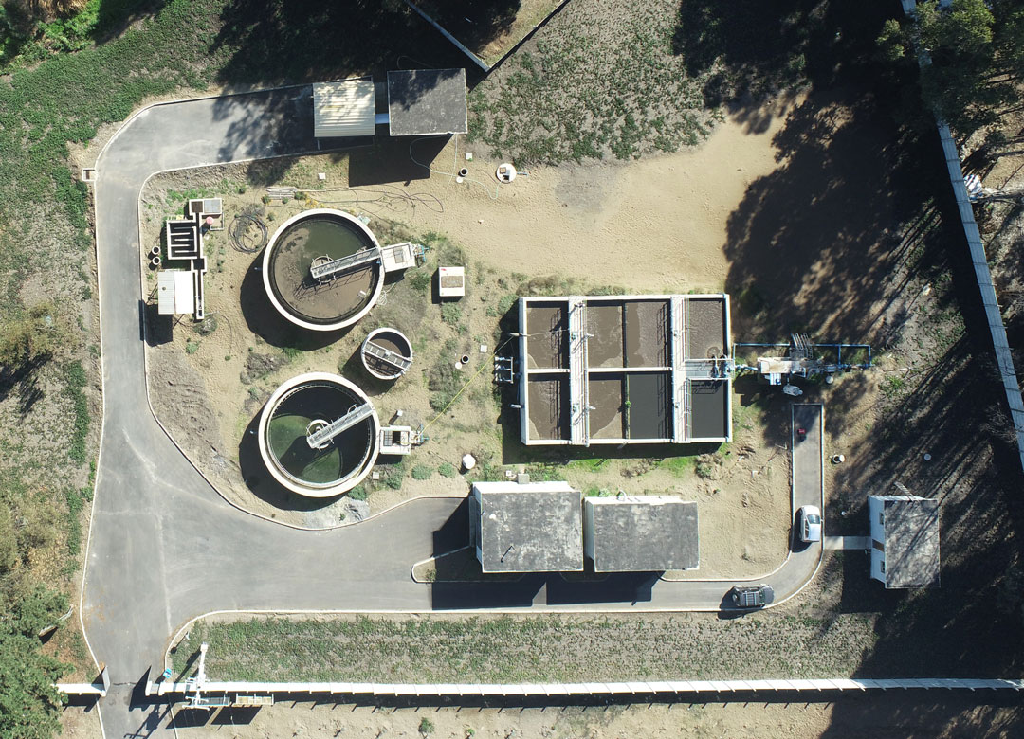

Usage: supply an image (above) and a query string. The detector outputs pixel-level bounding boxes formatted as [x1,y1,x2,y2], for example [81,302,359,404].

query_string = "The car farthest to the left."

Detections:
[727,584,774,607]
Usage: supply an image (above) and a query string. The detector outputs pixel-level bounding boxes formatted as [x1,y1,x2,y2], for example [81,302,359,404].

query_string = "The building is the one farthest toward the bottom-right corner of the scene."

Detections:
[869,495,943,589]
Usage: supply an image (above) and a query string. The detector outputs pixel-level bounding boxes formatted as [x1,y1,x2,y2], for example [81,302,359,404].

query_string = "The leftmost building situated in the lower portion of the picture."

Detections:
[474,483,583,575]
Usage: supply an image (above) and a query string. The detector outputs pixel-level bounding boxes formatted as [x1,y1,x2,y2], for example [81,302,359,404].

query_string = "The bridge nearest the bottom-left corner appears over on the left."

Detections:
[308,402,375,449]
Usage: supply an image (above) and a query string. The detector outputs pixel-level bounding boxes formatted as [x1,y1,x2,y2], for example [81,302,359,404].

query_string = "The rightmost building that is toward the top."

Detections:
[385,67,467,140]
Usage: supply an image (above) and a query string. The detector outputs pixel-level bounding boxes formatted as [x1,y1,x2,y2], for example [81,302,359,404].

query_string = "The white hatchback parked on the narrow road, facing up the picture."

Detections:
[797,504,821,543]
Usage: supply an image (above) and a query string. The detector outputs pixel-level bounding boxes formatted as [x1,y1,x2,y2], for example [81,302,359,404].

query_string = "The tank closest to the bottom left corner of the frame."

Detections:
[258,372,381,496]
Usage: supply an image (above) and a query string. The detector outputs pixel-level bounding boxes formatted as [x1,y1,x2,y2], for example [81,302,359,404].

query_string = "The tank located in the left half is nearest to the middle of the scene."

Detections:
[360,327,413,379]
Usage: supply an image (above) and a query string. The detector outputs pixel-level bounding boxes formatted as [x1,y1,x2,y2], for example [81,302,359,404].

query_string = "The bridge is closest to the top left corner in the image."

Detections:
[311,245,382,277]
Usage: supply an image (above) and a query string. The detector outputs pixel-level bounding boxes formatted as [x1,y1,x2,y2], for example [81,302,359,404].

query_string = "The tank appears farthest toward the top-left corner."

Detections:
[263,209,384,330]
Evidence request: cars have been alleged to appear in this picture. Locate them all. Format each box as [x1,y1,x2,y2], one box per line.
[797,504,821,543]
[727,584,774,607]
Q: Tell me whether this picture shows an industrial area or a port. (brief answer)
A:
industrial area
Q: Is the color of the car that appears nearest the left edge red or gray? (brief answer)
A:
gray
